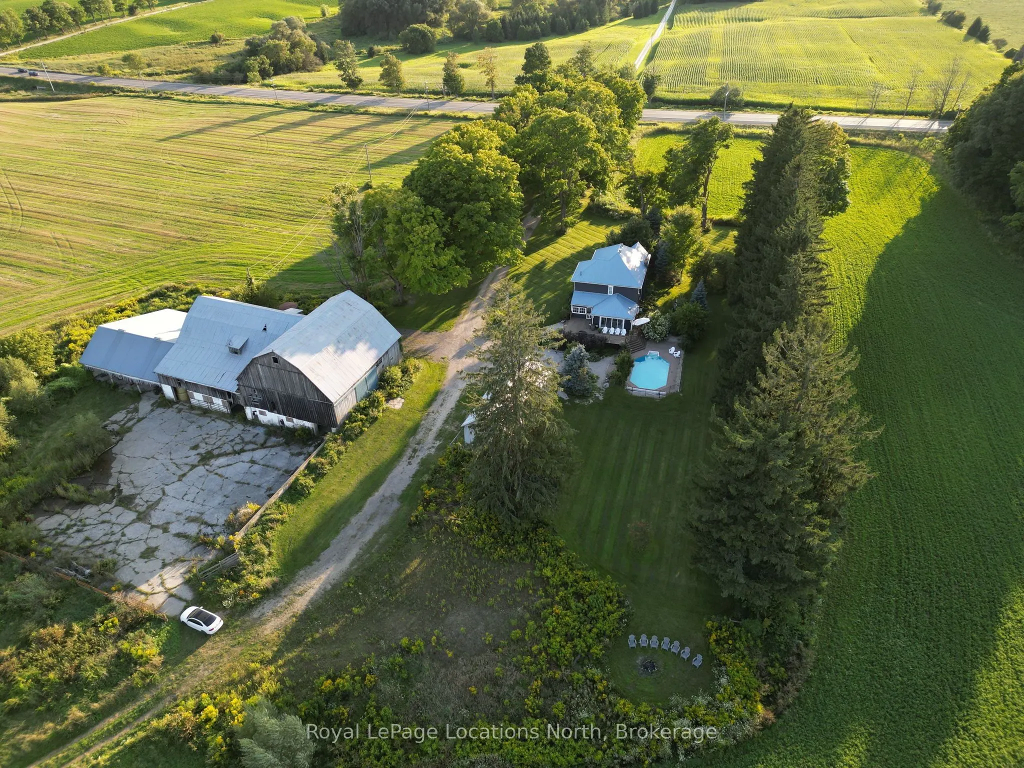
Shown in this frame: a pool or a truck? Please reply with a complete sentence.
There is a pool in the scene.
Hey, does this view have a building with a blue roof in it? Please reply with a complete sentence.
Yes, the picture does show a building with a blue roof.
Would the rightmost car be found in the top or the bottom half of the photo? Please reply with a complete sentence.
The rightmost car sits in the bottom half of the picture.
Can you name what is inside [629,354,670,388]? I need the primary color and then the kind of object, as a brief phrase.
blue swimming pool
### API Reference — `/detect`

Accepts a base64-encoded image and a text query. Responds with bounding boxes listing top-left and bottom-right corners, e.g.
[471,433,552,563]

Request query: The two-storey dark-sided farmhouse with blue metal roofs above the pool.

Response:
[568,239,652,339]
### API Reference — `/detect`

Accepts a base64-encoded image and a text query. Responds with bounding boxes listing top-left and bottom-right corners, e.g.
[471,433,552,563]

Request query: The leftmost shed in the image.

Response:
[79,308,189,399]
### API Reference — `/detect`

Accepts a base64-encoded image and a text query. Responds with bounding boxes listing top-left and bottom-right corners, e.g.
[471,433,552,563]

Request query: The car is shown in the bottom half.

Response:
[178,606,226,639]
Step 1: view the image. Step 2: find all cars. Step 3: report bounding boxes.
[178,606,226,639]
[27,70,39,76]
[16,68,28,73]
